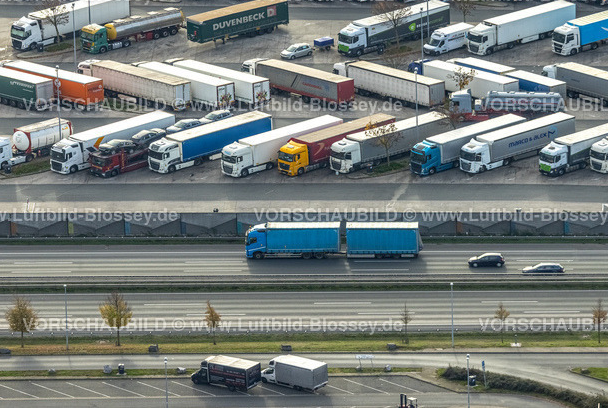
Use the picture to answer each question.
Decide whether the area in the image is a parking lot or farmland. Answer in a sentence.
The area seen from above is a parking lot.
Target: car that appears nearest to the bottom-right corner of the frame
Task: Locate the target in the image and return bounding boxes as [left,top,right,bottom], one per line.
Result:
[523,259,566,273]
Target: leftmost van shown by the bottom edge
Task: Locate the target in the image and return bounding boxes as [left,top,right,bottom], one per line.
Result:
[191,356,254,391]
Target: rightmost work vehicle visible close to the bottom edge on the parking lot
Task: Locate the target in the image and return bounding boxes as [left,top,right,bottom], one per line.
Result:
[401,391,422,408]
